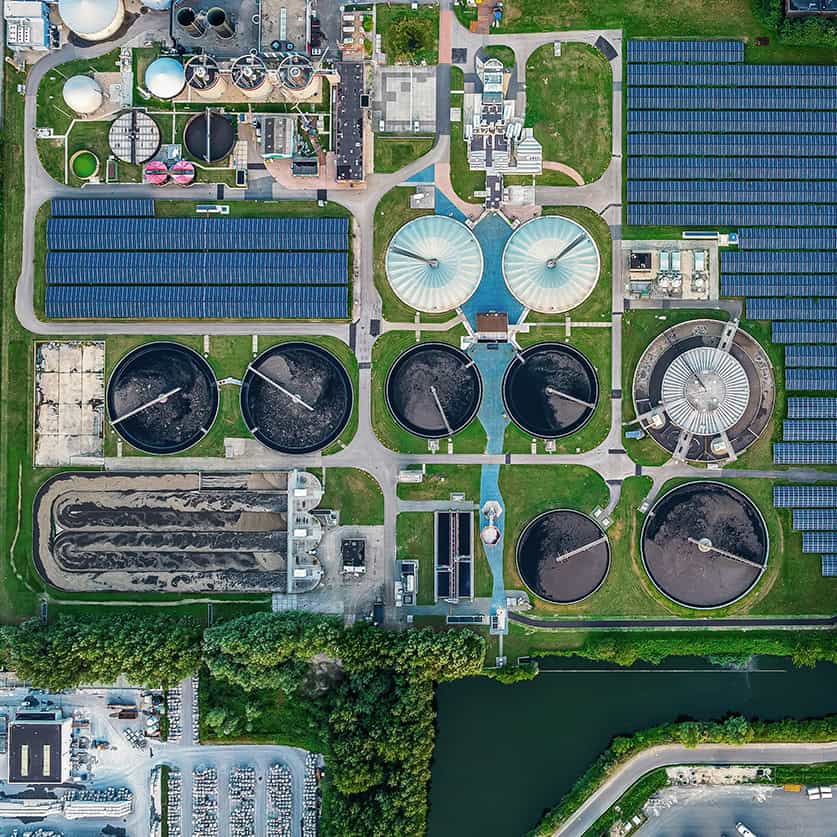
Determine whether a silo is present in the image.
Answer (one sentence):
Yes, you can see a silo in this photo.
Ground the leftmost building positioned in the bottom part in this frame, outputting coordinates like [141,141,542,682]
[8,702,79,783]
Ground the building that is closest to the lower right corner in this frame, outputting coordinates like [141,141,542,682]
[490,606,508,634]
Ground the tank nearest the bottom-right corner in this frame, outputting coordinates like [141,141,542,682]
[641,481,769,609]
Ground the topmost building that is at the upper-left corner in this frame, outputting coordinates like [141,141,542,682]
[5,2,55,53]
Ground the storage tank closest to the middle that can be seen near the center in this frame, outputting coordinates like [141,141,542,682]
[386,342,482,439]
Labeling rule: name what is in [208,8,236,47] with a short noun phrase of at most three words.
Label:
silo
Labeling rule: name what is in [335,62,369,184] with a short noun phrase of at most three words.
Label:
building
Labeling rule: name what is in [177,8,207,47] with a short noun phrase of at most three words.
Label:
silo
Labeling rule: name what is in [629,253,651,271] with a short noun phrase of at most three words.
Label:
house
